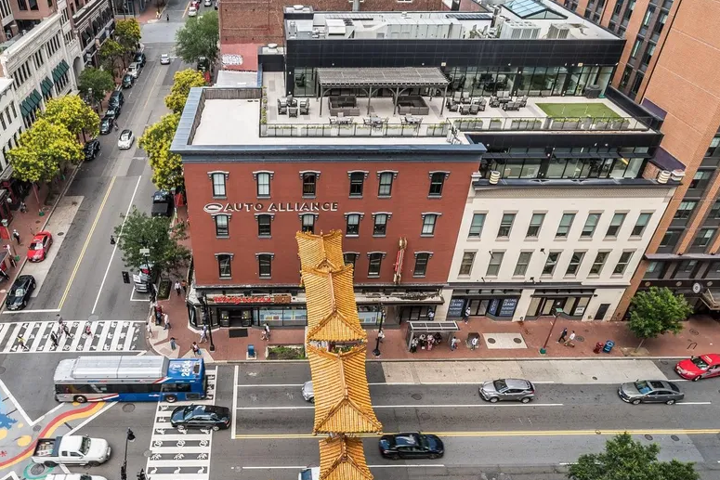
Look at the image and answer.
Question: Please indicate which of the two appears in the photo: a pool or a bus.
bus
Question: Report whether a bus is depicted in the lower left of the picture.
Yes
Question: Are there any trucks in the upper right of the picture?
No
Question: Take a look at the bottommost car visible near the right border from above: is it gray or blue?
gray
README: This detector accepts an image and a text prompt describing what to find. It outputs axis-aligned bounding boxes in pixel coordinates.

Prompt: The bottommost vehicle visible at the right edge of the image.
[618,377,686,404]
